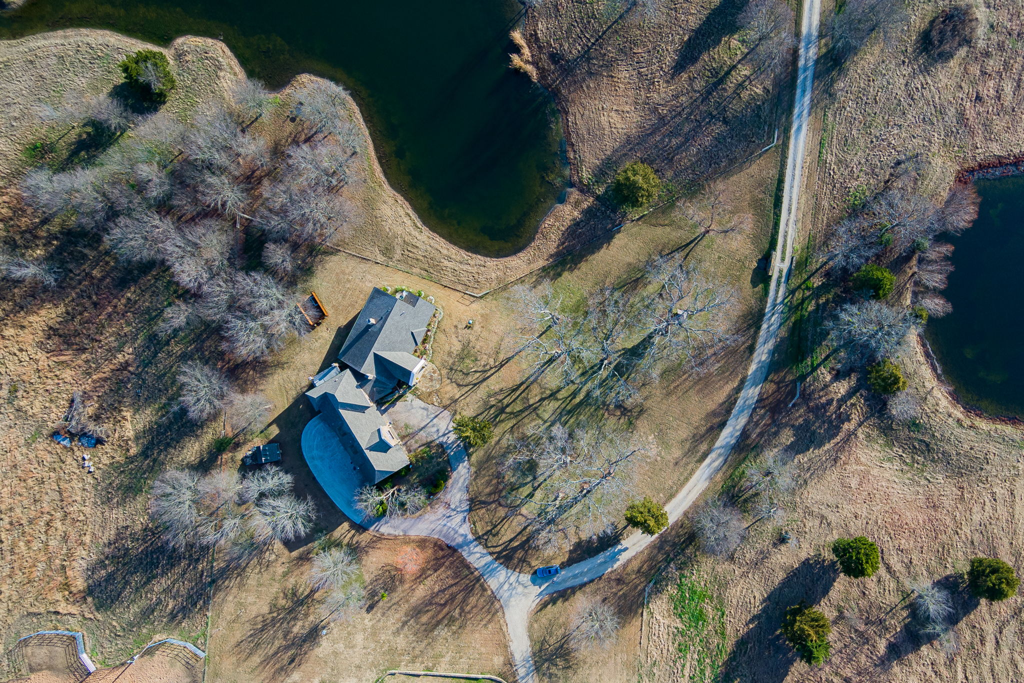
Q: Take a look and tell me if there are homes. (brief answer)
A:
Yes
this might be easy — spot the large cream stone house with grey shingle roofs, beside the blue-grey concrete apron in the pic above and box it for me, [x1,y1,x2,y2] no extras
[304,287,436,489]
